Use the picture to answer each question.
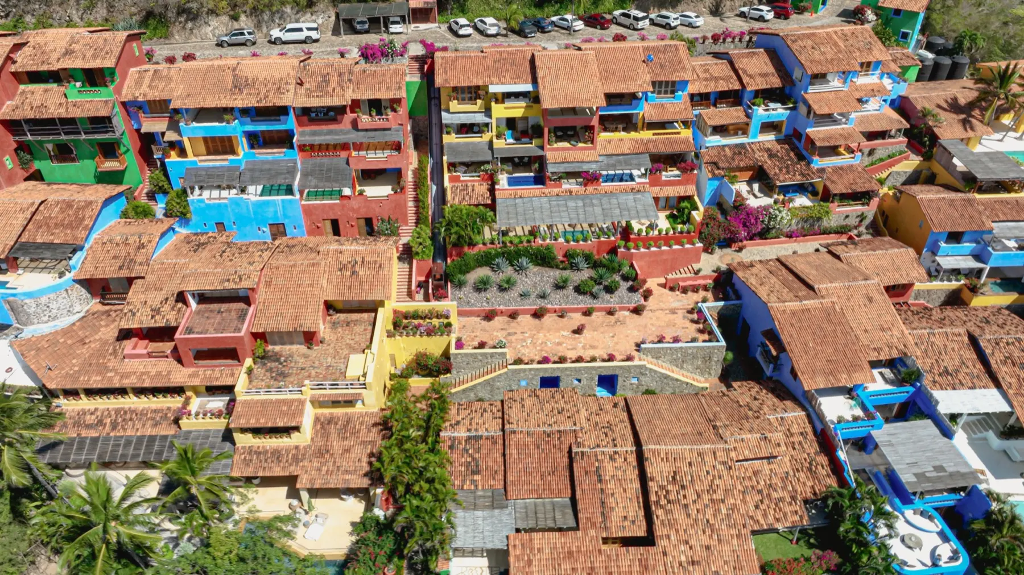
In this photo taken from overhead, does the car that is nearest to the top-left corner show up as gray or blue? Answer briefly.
gray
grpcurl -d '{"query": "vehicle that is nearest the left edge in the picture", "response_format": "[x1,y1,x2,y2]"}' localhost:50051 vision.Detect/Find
[213,25,258,46]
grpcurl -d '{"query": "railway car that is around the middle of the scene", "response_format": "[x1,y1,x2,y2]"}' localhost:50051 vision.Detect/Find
[432,268,444,287]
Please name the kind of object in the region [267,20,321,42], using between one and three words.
car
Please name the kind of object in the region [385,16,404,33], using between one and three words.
car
